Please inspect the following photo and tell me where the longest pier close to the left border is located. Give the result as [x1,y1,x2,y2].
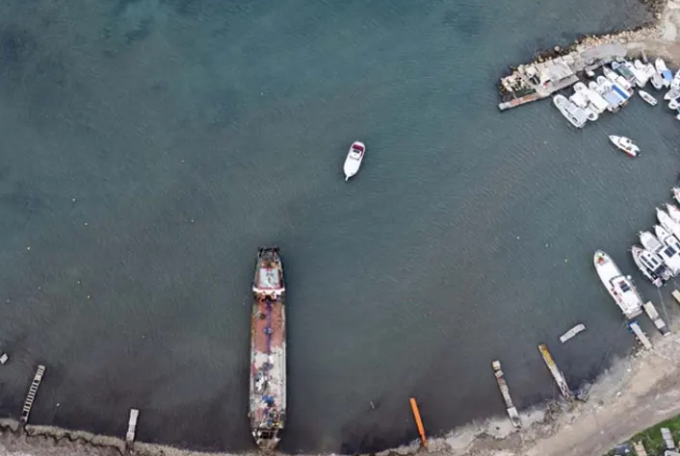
[20,366,47,422]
